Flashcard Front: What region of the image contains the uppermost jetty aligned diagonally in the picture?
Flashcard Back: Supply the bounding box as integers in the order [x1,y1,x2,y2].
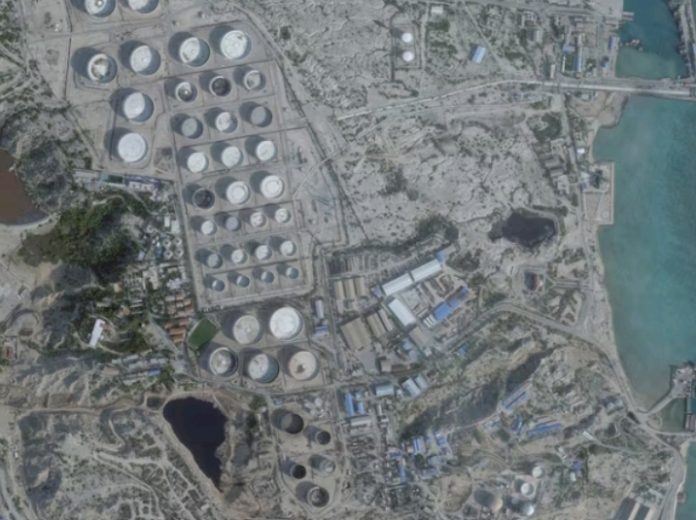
[640,361,696,413]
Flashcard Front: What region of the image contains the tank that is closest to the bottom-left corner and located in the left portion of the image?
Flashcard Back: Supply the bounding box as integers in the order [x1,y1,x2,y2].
[209,347,240,377]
